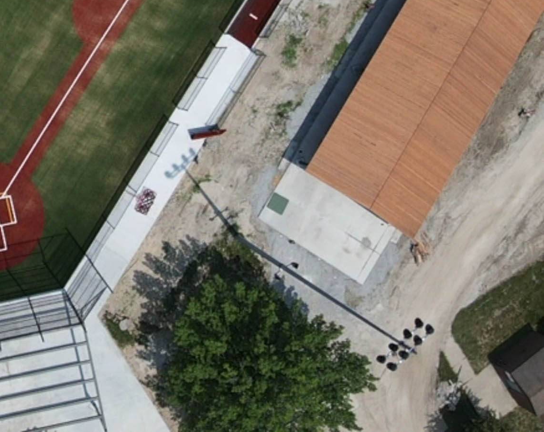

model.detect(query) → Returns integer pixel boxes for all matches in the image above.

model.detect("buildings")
[299,0,544,238]
[495,325,544,425]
